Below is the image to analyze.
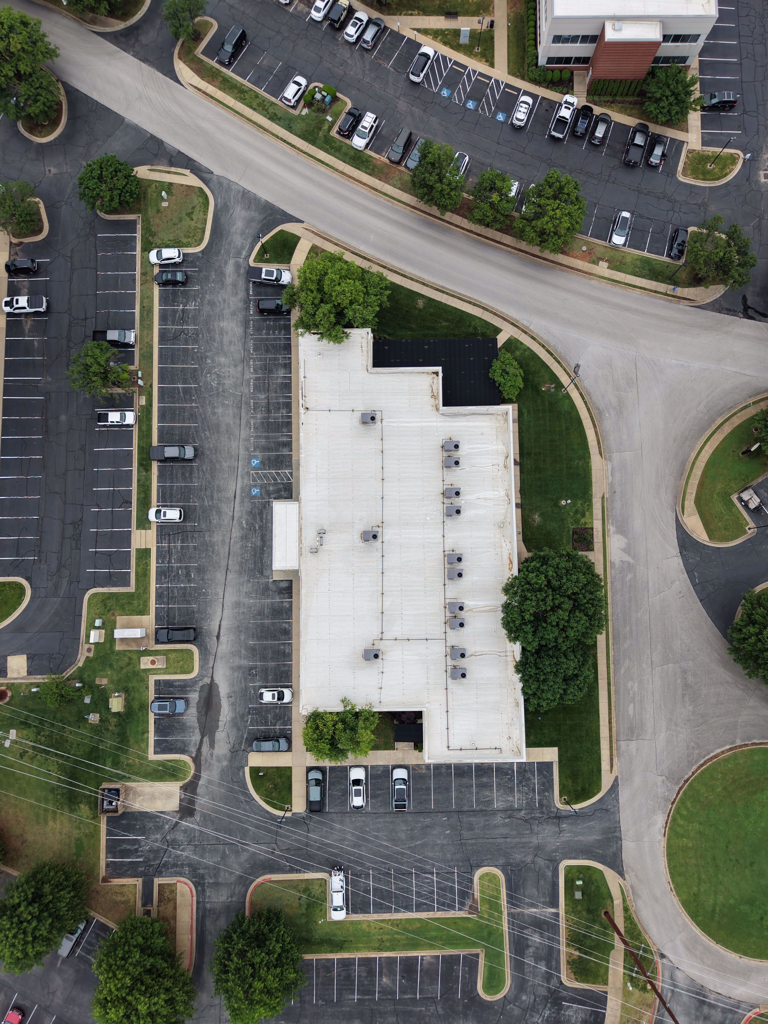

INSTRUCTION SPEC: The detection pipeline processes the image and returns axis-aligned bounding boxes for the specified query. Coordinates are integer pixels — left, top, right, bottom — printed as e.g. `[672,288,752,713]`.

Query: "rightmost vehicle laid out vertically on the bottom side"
[391,766,410,813]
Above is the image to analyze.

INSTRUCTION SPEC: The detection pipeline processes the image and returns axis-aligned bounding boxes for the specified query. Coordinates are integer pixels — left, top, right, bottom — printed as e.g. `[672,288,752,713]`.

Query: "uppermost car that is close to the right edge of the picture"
[702,93,738,112]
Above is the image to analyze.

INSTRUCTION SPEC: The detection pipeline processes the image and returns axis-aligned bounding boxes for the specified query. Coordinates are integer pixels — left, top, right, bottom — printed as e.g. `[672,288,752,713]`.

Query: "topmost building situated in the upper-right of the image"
[535,0,719,89]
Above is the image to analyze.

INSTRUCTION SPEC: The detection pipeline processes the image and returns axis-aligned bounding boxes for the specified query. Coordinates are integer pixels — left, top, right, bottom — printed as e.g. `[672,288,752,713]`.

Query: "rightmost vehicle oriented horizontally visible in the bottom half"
[252,736,290,753]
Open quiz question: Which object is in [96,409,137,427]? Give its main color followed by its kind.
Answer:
white vehicle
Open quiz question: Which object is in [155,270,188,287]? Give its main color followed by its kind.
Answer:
black car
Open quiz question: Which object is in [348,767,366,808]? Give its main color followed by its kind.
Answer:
white car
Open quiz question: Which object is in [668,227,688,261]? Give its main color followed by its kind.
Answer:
black car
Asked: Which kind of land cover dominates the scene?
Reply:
paved ground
